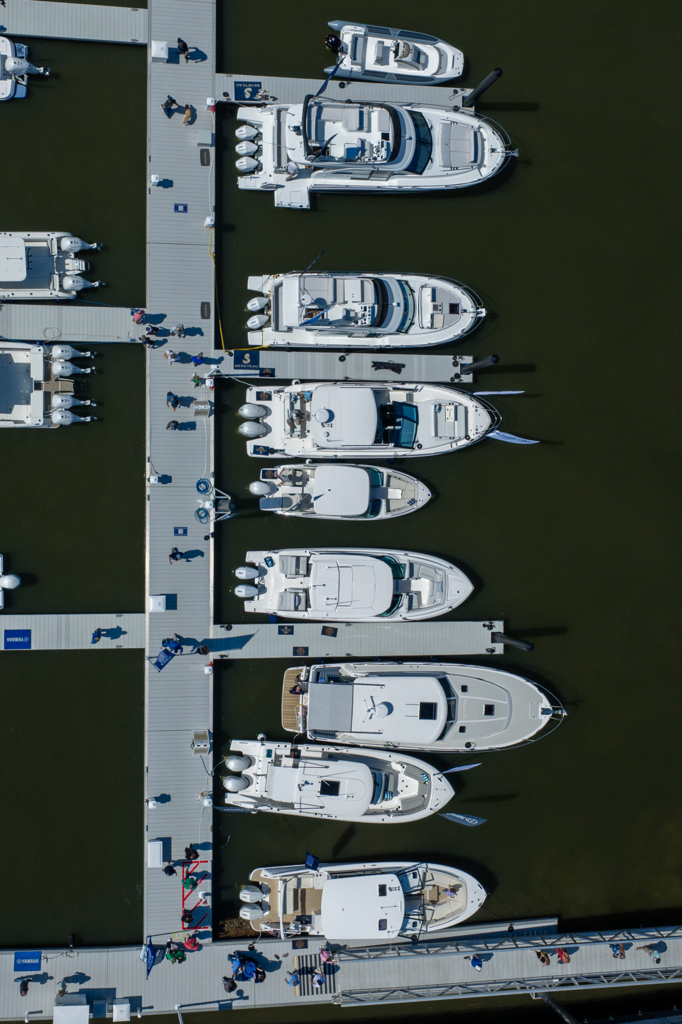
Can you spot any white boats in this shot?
Yes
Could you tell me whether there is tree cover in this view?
No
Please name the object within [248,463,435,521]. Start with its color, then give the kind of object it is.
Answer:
white boat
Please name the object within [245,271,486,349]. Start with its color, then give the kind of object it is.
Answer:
white boat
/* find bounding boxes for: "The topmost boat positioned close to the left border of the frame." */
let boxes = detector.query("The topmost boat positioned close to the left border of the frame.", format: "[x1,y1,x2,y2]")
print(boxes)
[0,36,56,107]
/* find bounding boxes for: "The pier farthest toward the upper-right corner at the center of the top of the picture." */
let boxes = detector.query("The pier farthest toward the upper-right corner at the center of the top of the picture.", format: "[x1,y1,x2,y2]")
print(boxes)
[216,74,474,117]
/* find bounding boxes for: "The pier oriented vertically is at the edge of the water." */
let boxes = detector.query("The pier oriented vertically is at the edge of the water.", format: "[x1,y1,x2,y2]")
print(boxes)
[144,0,216,945]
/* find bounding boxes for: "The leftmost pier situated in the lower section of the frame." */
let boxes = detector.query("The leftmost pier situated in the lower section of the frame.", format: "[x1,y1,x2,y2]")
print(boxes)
[0,613,145,650]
